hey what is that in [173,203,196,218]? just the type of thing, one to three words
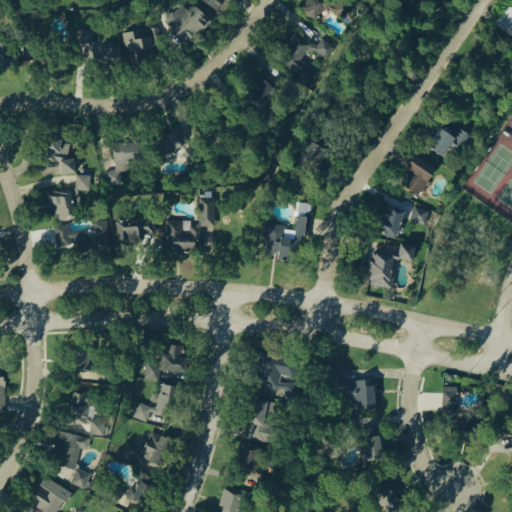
swimming pool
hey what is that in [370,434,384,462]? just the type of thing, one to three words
house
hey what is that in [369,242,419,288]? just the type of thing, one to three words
house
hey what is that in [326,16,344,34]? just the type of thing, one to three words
swimming pool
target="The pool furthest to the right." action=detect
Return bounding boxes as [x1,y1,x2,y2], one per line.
[460,394,478,408]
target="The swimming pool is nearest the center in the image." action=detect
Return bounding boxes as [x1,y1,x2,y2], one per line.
[273,206,294,222]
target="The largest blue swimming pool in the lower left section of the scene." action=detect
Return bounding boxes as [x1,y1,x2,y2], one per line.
[108,460,132,478]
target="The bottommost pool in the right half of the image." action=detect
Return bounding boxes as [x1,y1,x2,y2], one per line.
[342,449,358,467]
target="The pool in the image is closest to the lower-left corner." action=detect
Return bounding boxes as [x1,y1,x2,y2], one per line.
[82,450,98,465]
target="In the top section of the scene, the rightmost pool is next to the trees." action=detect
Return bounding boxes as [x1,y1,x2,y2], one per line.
[433,179,446,197]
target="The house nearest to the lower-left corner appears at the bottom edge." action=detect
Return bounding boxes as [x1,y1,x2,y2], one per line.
[32,474,73,512]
